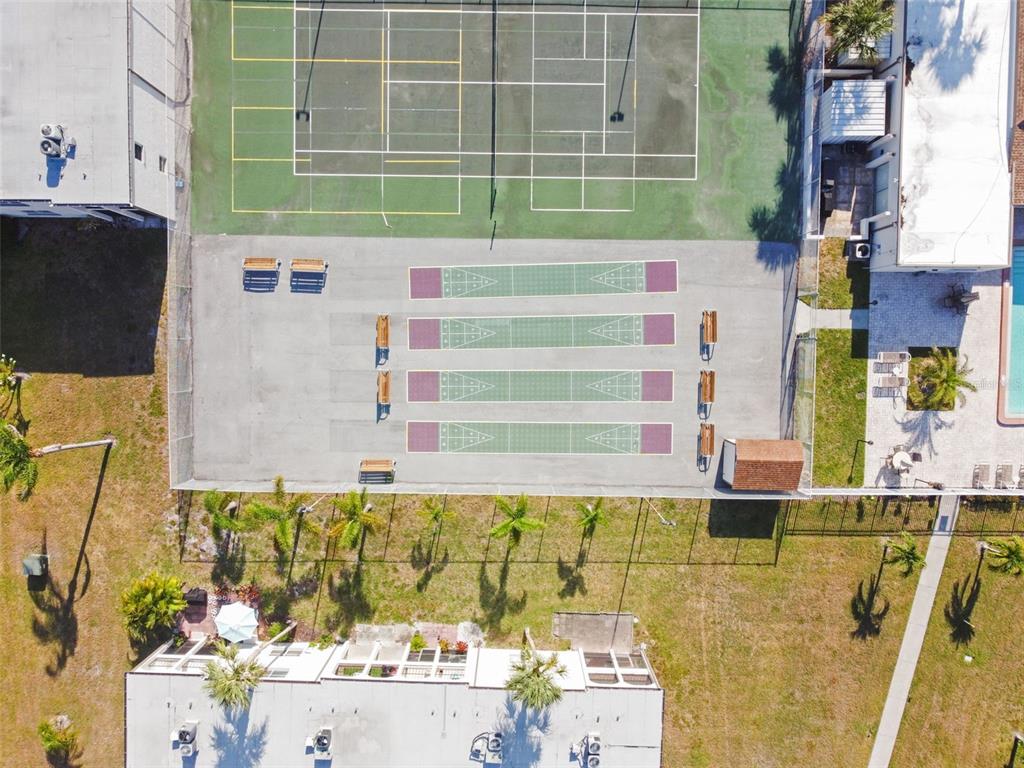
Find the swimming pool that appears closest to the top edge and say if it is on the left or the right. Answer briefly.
right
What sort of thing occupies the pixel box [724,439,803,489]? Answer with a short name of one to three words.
shed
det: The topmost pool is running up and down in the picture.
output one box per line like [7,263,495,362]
[1000,238,1024,426]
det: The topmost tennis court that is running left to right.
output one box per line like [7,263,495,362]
[191,0,807,243]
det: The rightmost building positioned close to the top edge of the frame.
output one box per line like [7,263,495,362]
[869,0,1024,272]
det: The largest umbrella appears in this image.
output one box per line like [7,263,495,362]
[215,596,263,644]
